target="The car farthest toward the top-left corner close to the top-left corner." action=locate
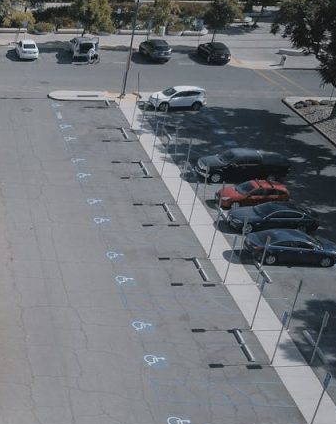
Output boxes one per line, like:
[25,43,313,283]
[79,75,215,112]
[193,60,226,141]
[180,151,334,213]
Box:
[18,38,40,57]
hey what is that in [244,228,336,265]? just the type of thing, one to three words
car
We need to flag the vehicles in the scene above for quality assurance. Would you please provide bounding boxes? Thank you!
[67,34,97,58]
[196,144,297,179]
[226,199,325,232]
[147,84,209,111]
[244,228,336,265]
[143,37,173,59]
[18,38,40,57]
[214,175,297,208]
[199,41,235,61]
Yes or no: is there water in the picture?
No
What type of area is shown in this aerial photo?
parking lot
